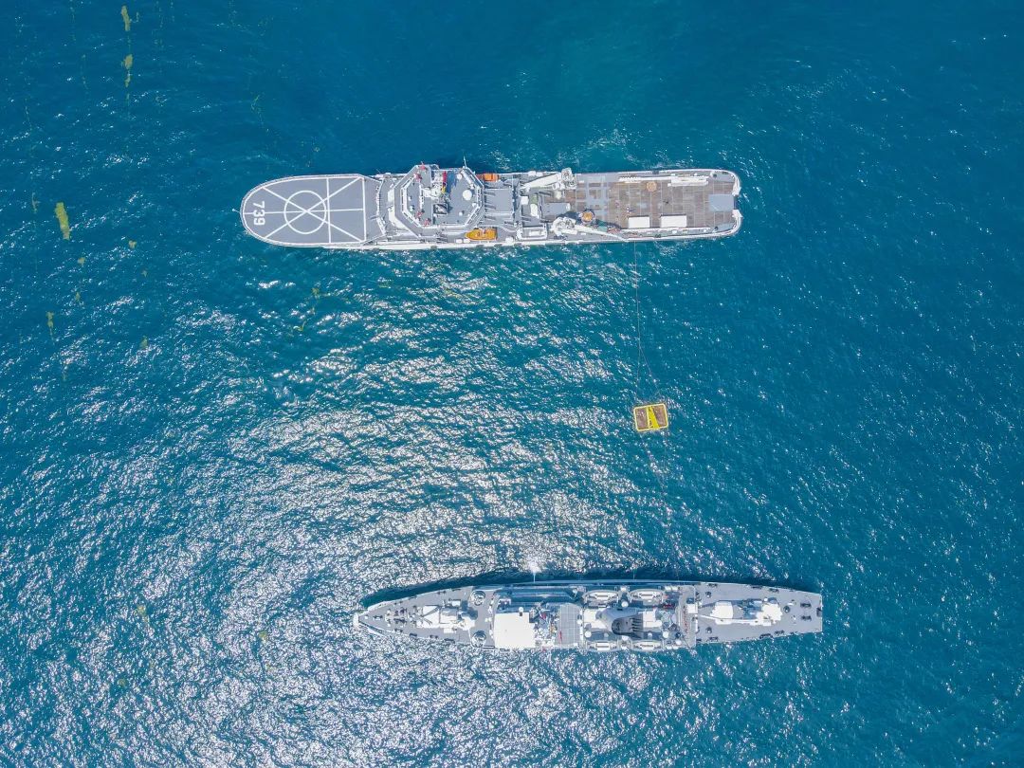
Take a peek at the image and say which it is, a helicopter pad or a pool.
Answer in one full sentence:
The image shows a helicopter pad.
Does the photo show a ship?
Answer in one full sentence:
Yes, there is a ship in the image.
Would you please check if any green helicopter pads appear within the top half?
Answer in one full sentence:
No, the scene shows no green helicopter pad within the top half.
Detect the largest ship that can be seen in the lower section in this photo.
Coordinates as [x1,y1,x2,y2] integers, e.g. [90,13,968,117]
[353,577,823,651]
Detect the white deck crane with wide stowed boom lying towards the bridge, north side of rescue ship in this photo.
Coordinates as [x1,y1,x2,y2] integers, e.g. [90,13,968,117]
[520,167,578,192]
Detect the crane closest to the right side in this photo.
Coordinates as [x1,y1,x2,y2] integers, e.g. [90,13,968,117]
[550,215,630,243]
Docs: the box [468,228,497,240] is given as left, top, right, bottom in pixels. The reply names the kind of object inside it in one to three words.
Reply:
boat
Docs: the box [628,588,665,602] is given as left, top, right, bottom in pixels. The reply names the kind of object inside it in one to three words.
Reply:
boat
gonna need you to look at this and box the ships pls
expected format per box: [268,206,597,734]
[322,161,744,249]
[353,577,823,651]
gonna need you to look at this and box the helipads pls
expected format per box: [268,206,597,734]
[232,174,368,248]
